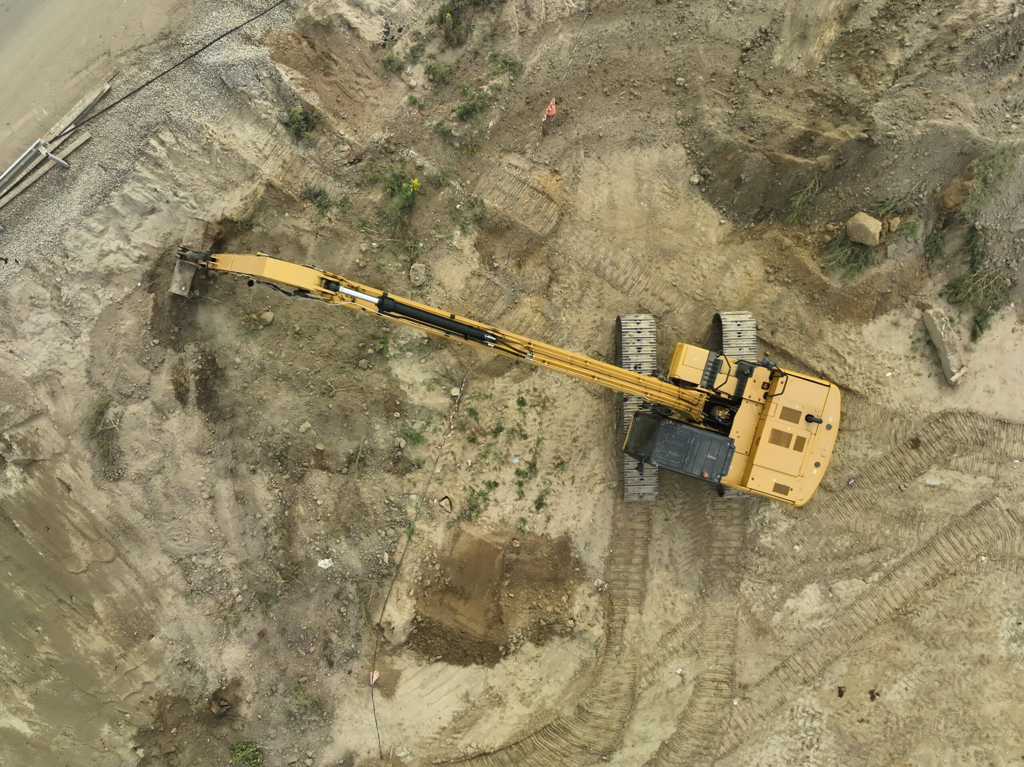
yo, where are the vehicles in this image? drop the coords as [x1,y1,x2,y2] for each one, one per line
[166,214,839,506]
